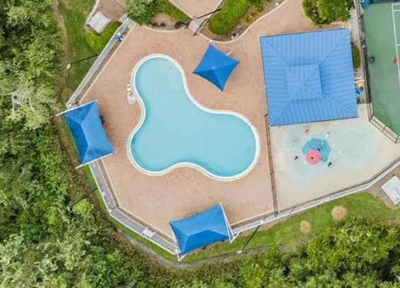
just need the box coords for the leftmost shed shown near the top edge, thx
[89,11,116,32]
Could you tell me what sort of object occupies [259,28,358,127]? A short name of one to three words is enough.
building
